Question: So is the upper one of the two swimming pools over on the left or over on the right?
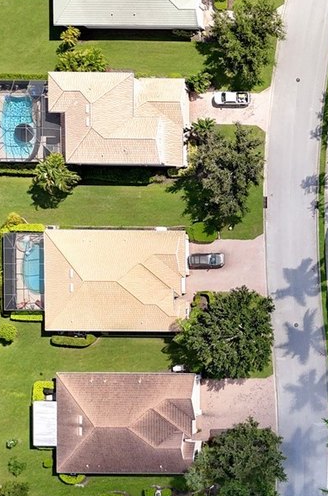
left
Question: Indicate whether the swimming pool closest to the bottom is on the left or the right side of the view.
left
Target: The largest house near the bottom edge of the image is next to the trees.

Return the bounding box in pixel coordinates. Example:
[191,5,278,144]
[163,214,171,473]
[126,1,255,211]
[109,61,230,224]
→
[56,372,201,474]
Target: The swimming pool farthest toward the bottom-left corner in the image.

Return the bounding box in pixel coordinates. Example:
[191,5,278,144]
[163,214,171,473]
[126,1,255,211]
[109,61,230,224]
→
[21,239,44,297]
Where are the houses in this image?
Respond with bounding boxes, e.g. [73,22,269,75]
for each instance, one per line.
[53,0,210,33]
[48,71,190,165]
[56,372,201,474]
[43,230,192,331]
